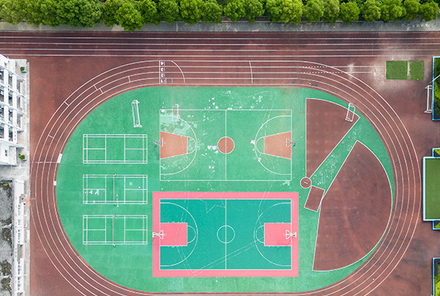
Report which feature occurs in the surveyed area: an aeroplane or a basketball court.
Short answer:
basketball court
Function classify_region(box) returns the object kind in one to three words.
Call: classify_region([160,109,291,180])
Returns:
basketball court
